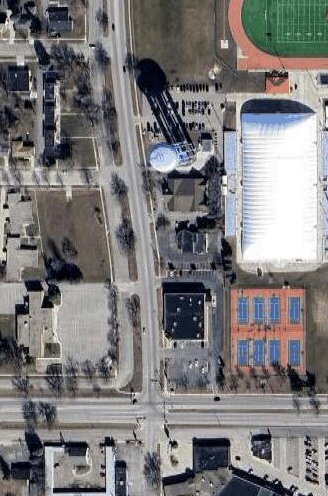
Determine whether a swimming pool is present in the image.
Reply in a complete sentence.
No, there is no swimming pool in the image.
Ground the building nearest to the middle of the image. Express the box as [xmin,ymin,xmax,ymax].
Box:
[177,231,209,253]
